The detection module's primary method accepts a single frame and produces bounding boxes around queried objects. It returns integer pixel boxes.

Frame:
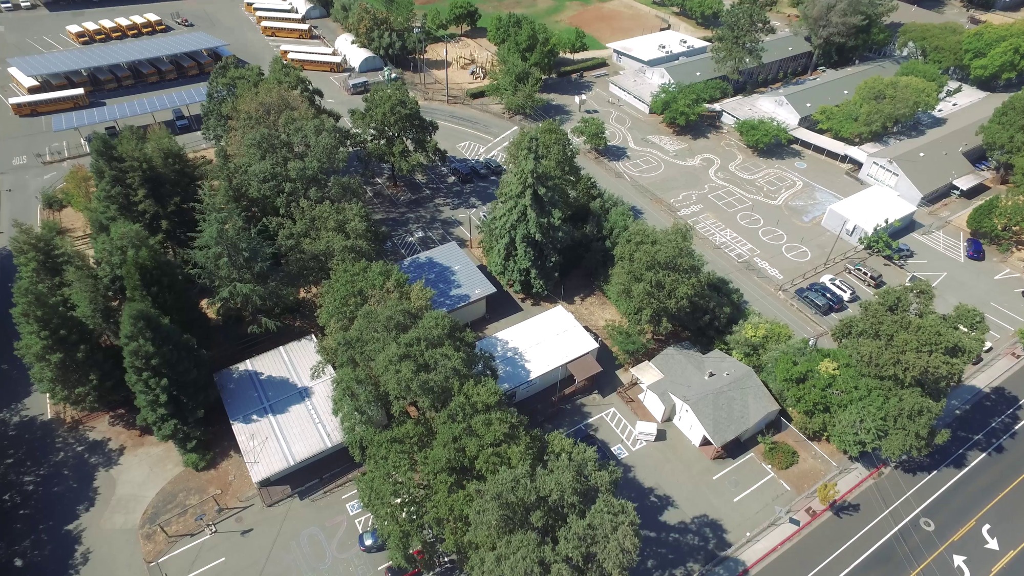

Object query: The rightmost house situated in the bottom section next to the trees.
[615,342,781,460]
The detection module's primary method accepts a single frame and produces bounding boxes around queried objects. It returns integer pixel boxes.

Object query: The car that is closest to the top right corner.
[962,239,984,261]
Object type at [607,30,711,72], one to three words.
building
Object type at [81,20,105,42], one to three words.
bus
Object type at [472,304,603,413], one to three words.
building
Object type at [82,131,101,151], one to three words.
car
